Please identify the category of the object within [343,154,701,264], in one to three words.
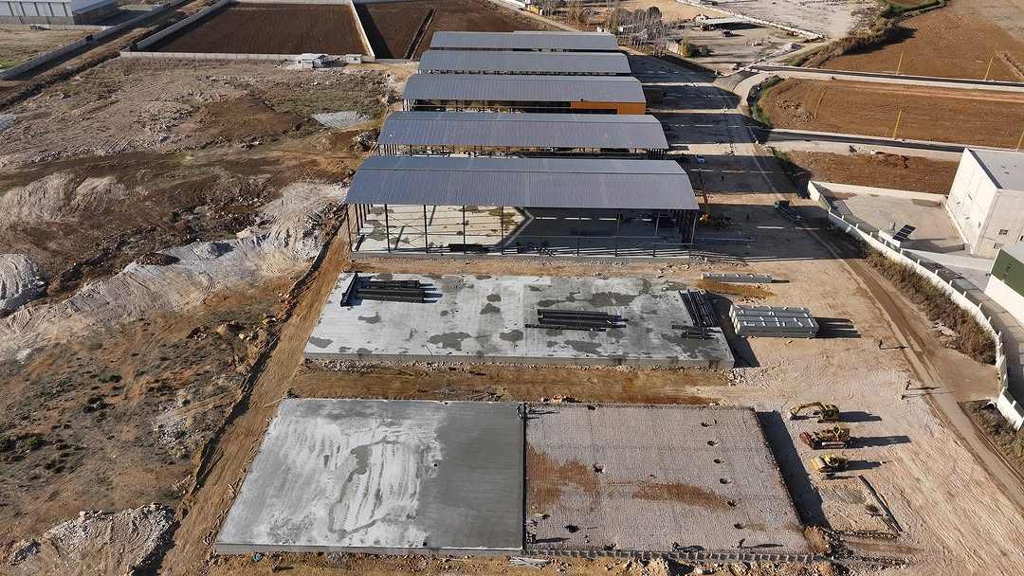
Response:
hangar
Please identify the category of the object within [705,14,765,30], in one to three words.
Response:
barn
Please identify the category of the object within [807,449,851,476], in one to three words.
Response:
work vehicle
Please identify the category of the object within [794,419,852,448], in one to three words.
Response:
work vehicle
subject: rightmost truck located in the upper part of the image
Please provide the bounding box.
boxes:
[775,197,805,221]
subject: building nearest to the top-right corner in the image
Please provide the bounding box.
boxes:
[948,144,1024,256]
